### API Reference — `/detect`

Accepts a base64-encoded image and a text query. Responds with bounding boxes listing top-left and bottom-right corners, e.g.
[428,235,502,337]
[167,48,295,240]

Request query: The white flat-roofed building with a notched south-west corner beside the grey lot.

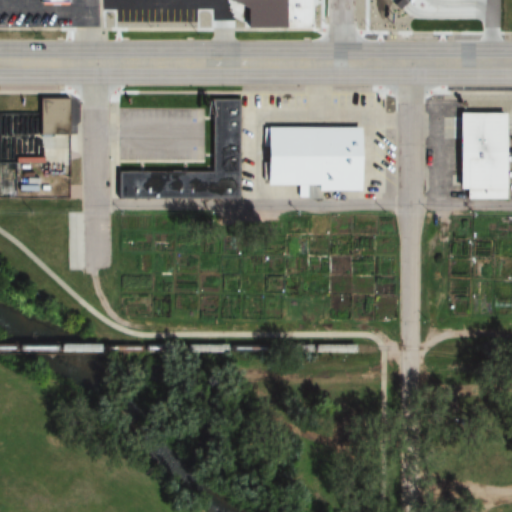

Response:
[462,112,509,200]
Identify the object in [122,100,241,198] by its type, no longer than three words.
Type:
building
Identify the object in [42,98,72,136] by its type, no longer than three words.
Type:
building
